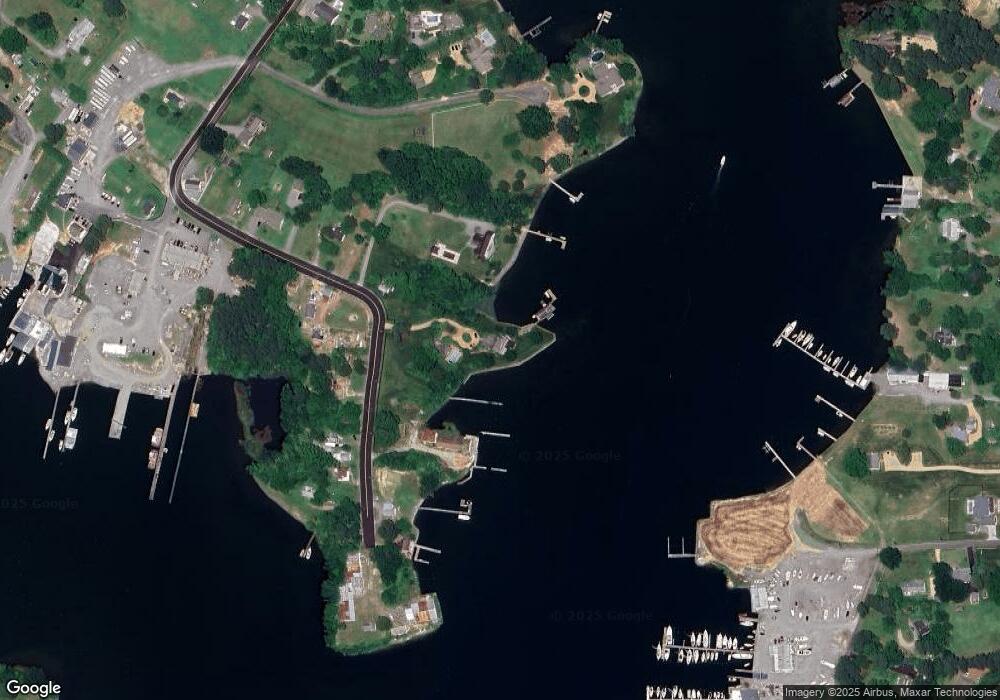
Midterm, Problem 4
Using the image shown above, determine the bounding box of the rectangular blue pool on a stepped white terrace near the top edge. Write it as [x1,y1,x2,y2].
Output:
[421,11,442,27]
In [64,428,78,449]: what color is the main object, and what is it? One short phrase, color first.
white boat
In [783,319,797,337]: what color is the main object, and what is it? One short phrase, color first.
white boat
